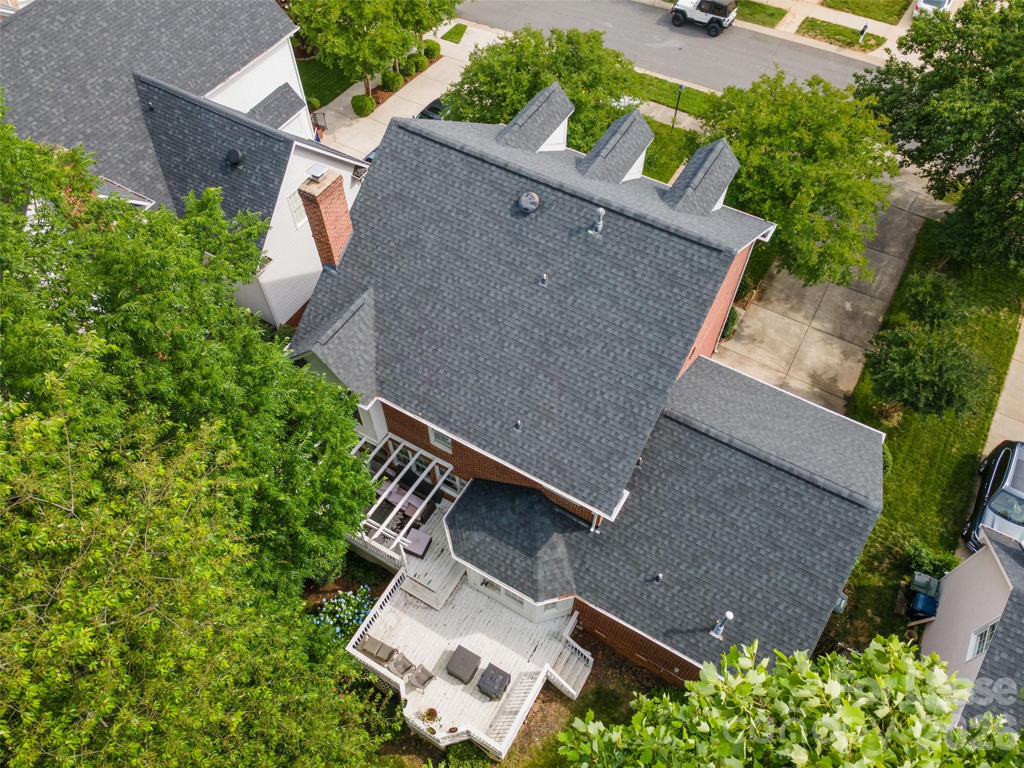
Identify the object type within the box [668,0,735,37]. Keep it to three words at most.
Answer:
car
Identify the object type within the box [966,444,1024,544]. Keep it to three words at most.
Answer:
car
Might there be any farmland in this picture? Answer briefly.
No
